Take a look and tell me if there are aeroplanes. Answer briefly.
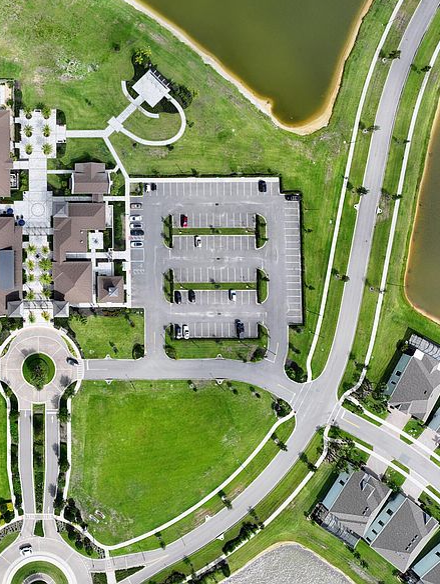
No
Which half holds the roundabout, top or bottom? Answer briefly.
bottom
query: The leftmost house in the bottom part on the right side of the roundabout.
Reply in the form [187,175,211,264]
[318,467,391,542]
